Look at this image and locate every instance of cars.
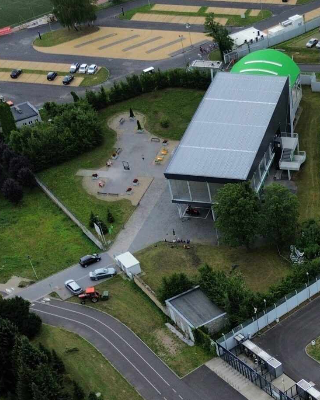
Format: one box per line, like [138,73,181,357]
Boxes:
[88,269,112,281]
[10,69,23,79]
[46,70,59,81]
[87,64,98,74]
[78,254,102,268]
[66,280,83,295]
[68,62,81,73]
[61,74,75,84]
[307,39,318,47]
[78,63,90,73]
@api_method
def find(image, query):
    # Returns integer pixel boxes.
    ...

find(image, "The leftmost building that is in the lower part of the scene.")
[115,251,142,280]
